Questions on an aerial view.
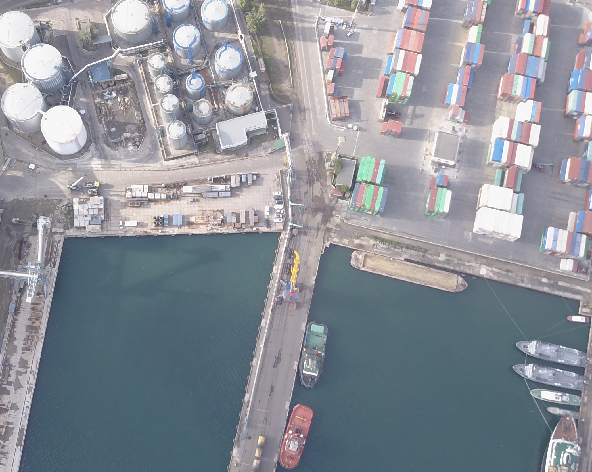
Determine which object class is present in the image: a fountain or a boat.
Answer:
boat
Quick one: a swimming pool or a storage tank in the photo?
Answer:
storage tank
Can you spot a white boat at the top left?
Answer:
No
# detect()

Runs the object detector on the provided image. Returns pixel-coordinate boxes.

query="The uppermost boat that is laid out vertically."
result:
[298,320,329,390]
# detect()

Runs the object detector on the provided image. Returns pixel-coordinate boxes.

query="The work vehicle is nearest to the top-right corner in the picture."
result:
[530,151,559,173]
